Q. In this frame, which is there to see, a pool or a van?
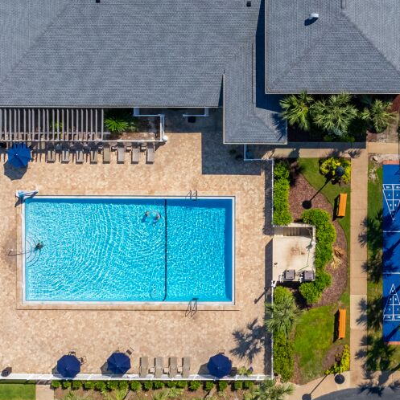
pool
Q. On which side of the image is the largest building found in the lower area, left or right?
right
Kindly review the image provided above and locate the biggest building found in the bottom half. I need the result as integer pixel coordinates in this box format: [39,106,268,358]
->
[272,226,312,280]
